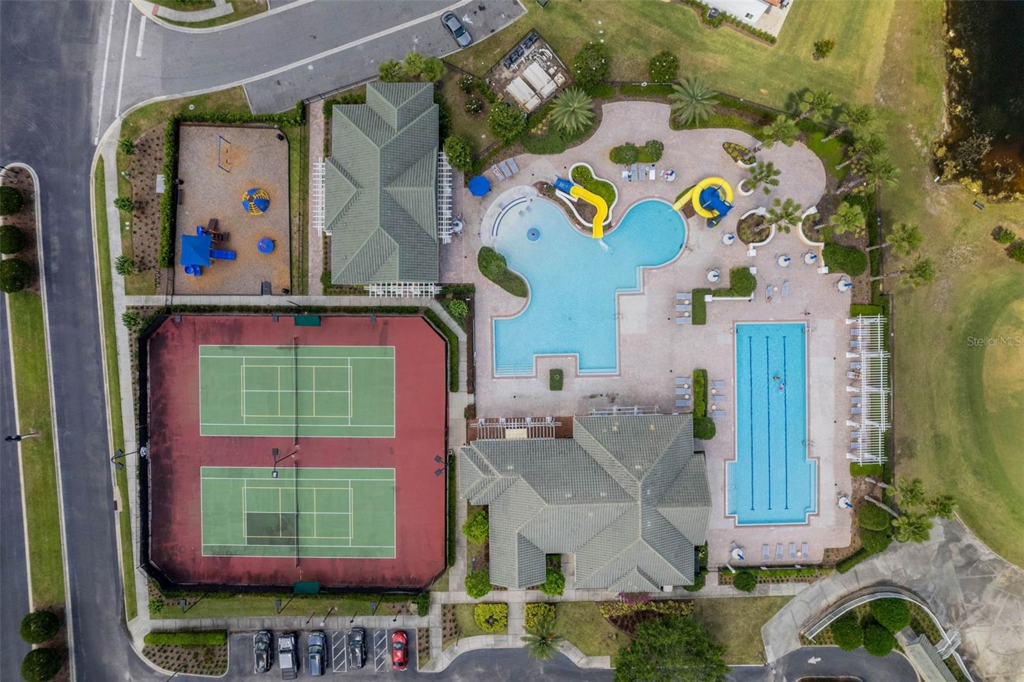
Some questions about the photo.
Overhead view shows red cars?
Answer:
Yes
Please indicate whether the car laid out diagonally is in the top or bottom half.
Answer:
top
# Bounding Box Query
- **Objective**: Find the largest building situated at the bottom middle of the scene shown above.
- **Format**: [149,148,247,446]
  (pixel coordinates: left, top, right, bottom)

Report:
[459,415,713,592]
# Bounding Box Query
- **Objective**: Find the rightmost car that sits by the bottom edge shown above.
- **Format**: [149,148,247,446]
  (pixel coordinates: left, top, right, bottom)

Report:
[390,630,409,670]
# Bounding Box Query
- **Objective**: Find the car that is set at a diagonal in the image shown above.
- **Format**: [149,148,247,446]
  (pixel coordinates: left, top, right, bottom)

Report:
[441,9,472,50]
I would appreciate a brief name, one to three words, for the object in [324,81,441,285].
building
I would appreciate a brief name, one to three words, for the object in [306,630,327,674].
car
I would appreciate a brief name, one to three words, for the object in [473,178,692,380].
swimming pool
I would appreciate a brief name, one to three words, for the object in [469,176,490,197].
umbrella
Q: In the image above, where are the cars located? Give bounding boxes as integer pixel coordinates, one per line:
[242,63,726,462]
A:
[441,9,472,50]
[390,630,409,670]
[346,626,367,668]
[252,630,274,672]
[306,630,327,674]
